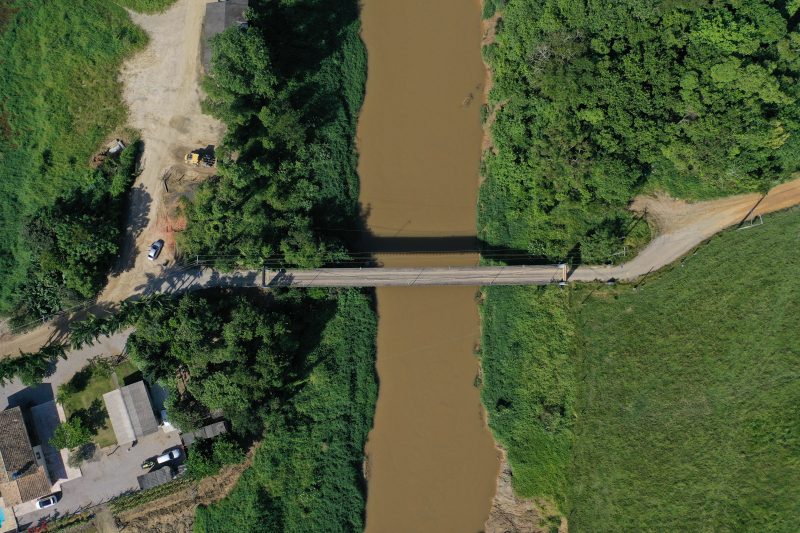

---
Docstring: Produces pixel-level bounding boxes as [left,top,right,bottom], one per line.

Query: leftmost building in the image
[0,402,59,509]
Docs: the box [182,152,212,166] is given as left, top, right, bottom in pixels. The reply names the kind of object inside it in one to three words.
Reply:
vehicle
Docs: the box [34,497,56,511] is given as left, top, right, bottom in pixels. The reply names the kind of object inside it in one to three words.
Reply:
car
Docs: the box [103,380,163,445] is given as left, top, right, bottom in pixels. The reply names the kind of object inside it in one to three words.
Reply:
barn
